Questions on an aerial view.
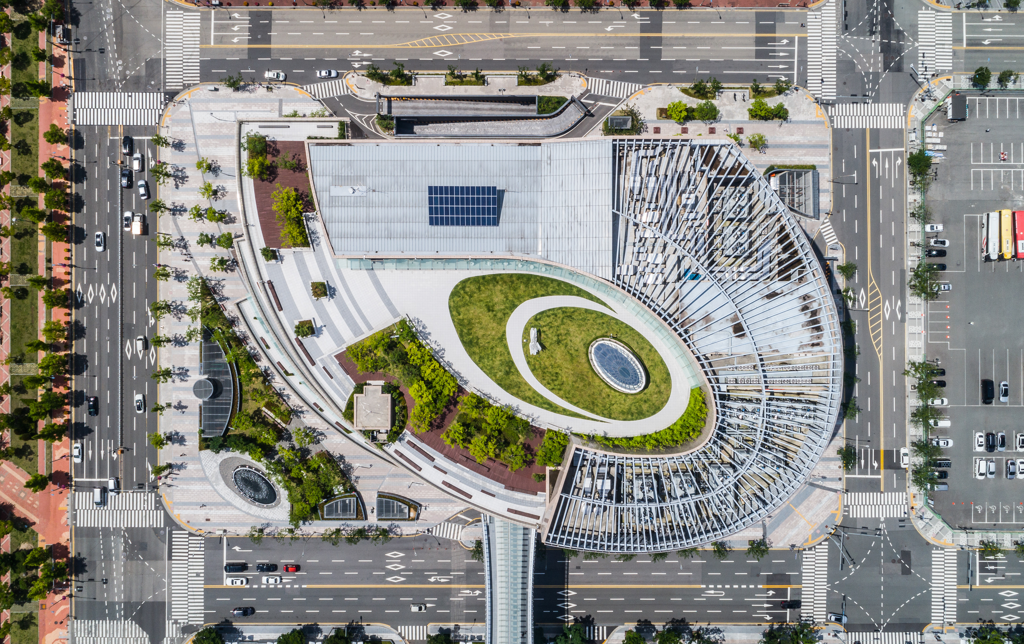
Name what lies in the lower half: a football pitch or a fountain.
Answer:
fountain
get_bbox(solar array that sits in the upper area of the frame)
[428,186,497,226]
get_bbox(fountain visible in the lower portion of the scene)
[233,468,278,505]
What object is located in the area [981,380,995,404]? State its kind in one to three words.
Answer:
car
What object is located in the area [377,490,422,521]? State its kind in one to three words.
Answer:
building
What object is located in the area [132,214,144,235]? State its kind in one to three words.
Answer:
vehicle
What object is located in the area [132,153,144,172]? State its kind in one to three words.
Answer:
vehicle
